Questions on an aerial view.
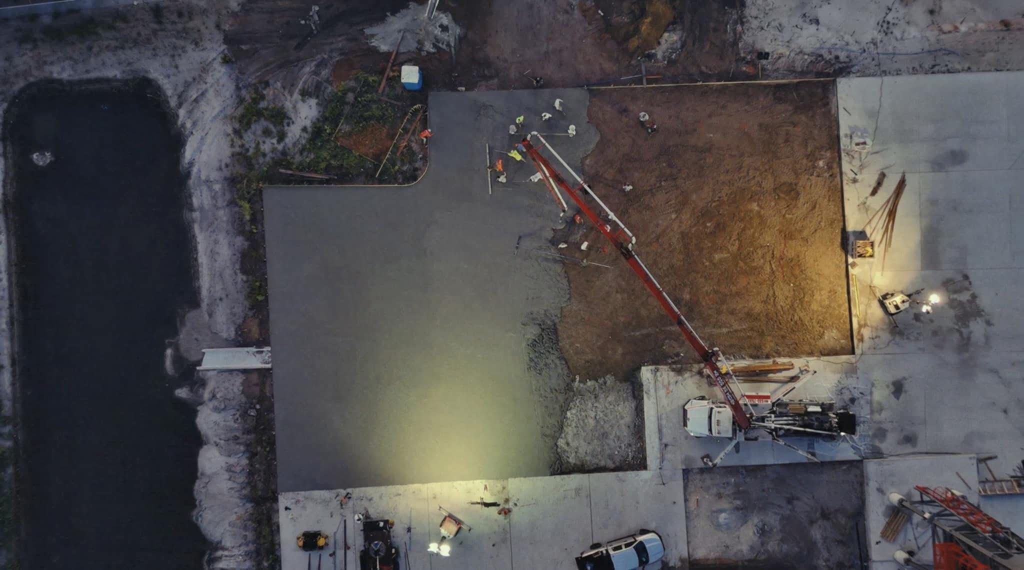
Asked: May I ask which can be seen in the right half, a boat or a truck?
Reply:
truck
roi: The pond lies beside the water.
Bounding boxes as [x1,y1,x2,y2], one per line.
[6,78,221,570]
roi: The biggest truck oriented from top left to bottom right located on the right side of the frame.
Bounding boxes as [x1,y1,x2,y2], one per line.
[522,130,857,467]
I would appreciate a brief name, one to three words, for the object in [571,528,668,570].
truck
